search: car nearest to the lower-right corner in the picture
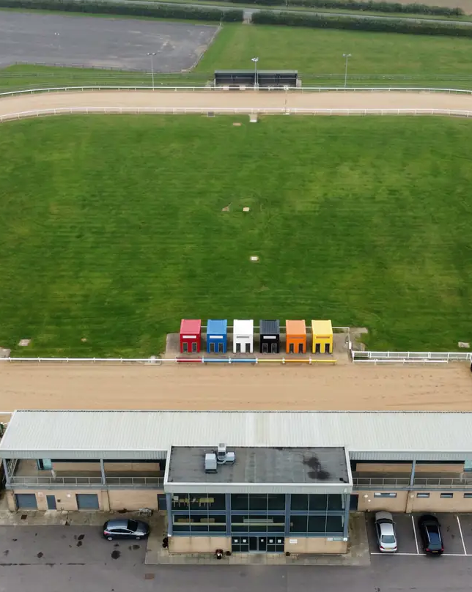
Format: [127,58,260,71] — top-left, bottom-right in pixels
[420,514,445,551]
